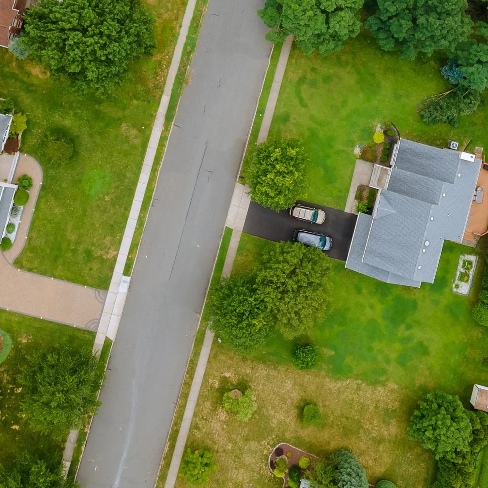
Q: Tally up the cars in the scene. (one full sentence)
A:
The number of cars here is 2.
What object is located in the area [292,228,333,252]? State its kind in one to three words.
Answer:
car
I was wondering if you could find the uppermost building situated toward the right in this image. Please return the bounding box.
[345,138,482,288]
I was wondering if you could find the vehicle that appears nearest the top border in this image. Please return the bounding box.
[288,204,326,226]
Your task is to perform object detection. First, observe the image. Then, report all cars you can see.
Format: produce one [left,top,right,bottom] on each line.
[288,204,326,226]
[292,228,333,252]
